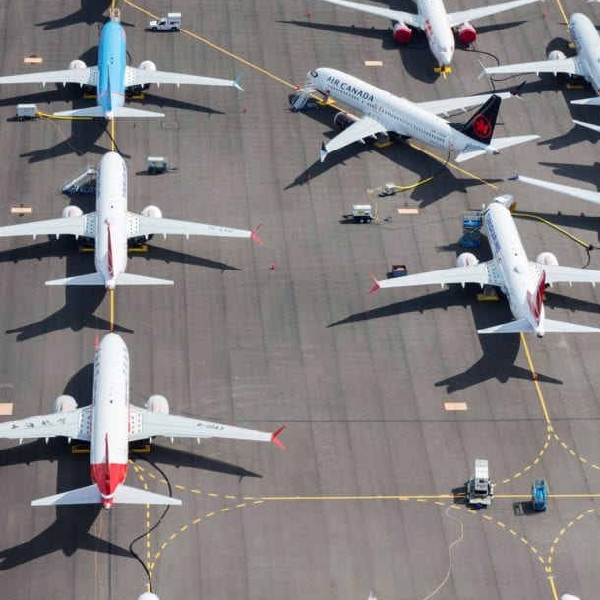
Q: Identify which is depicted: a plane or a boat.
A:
plane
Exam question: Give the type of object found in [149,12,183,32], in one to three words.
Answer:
vehicle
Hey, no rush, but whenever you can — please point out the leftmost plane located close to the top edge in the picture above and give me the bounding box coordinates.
[0,19,243,121]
